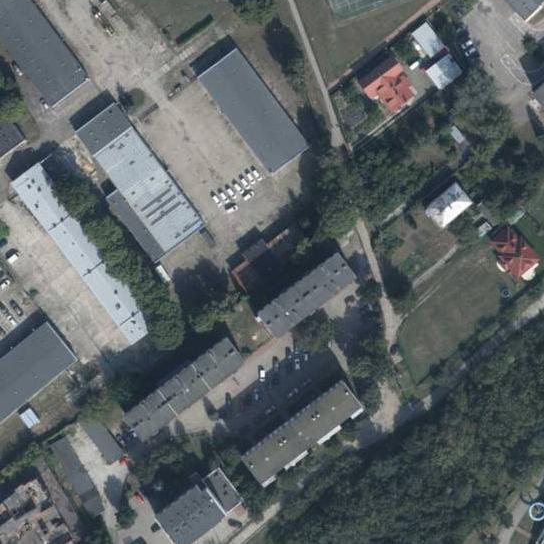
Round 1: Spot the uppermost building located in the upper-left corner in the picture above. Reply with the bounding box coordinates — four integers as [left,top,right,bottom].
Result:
[0,0,91,106]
